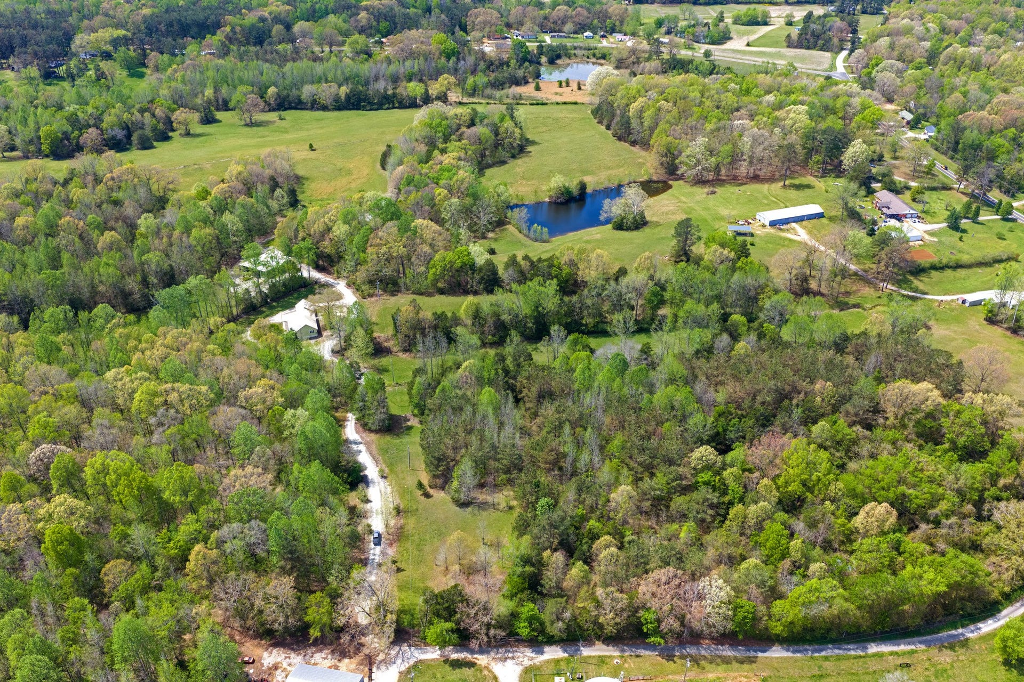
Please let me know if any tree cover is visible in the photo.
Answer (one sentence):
Yes, there's tree cover in this view.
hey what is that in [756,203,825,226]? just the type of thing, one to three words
shed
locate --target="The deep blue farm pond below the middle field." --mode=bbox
[500,179,677,240]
